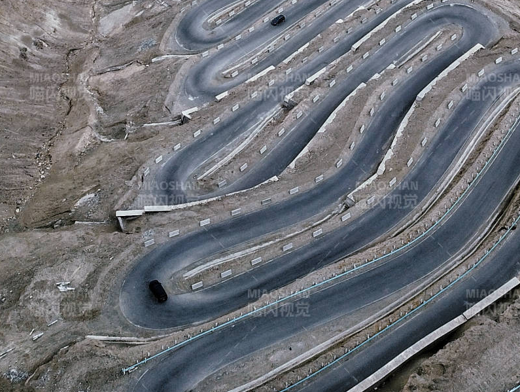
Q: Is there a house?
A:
No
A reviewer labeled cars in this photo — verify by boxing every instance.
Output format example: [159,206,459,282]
[150,277,166,304]
[270,14,286,27]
